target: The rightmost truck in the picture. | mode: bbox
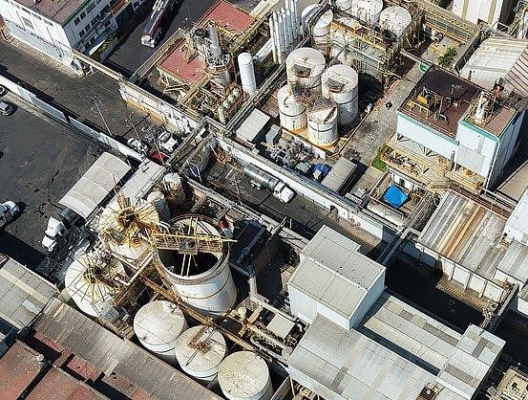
[245,164,293,206]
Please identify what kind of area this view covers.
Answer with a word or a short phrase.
industrial area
